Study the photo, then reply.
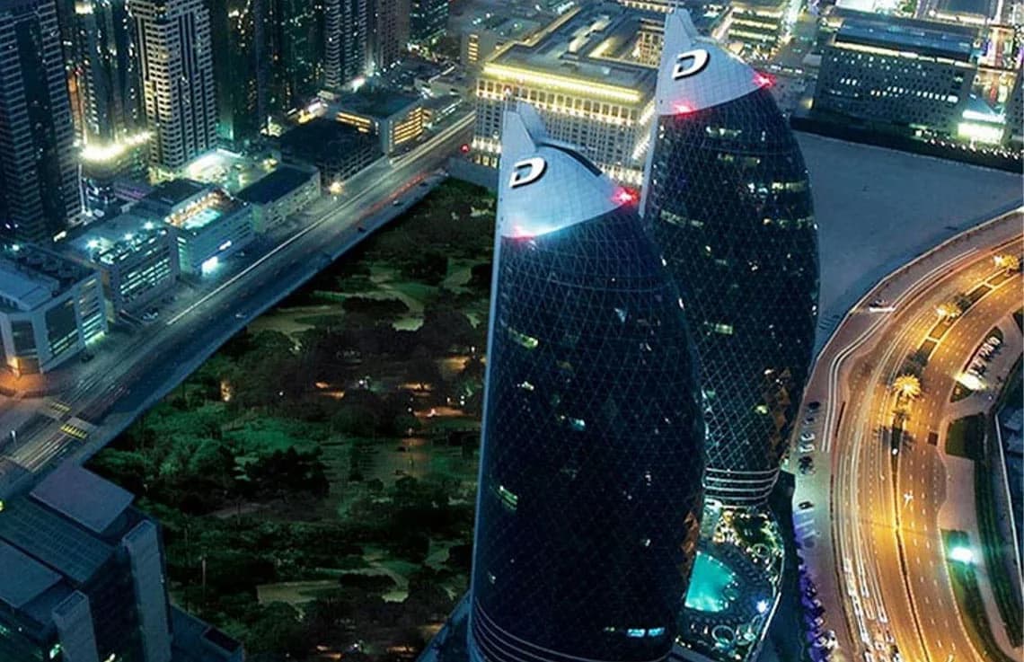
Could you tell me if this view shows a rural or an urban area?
urban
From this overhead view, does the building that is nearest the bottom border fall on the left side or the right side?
left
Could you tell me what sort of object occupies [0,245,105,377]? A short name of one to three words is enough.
building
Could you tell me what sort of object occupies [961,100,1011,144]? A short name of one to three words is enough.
building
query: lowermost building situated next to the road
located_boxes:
[0,464,243,662]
